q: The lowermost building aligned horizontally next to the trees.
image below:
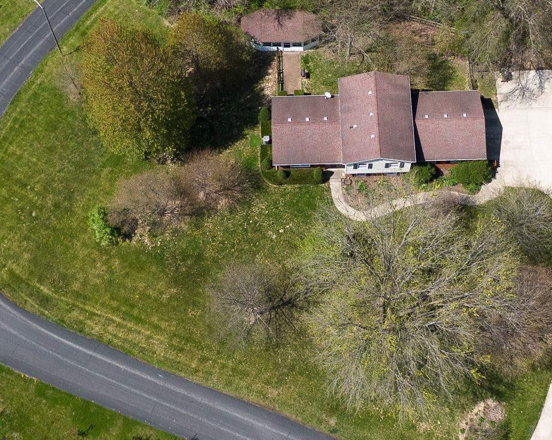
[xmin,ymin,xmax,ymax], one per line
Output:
[271,69,488,176]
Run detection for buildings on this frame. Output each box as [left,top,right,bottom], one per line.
[271,69,488,176]
[240,8,323,51]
